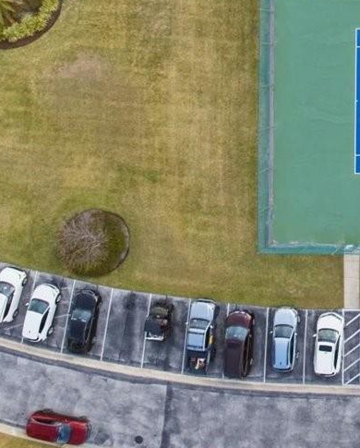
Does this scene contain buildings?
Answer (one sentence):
No, the photo shows no building.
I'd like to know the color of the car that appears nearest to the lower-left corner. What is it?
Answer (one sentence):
The color of the car that appears nearest to the lower-left corner is red.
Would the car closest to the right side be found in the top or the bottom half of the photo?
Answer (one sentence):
The bottom half of the photo is where the car closest to the right side is.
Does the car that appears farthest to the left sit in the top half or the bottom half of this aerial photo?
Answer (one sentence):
You can find the car that appears farthest to the left in the bottom half.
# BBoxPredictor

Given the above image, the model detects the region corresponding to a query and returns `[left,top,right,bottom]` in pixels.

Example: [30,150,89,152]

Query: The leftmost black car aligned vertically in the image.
[64,288,103,354]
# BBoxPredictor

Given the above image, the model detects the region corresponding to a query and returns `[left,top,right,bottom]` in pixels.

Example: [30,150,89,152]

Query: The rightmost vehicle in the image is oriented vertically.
[314,311,345,377]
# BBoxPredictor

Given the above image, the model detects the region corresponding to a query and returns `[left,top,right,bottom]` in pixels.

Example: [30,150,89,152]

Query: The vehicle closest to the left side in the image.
[0,264,29,325]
